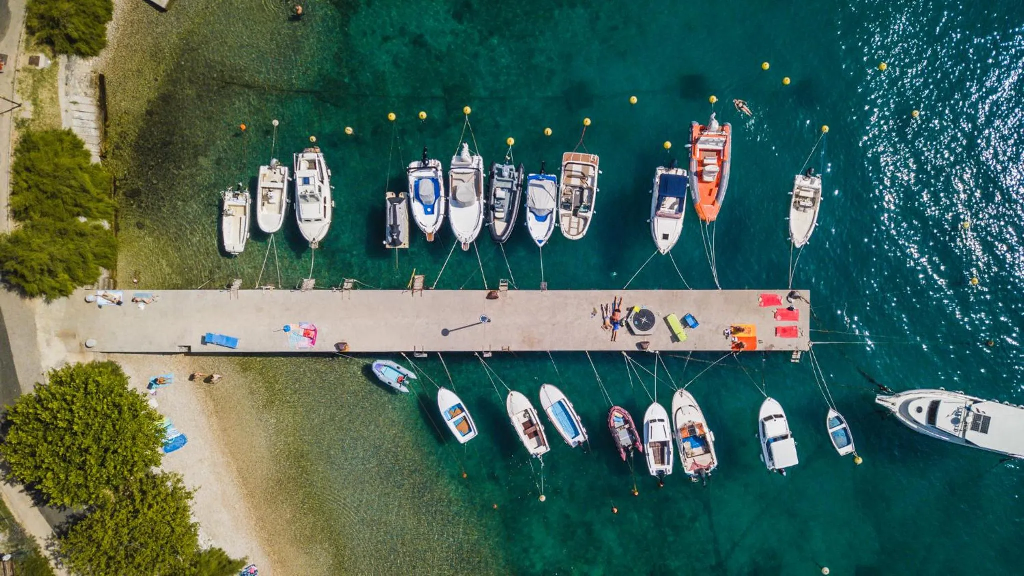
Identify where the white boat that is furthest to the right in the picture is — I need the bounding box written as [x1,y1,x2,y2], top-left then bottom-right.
[875,385,1024,458]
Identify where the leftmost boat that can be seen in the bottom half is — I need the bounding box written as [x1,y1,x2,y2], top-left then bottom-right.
[373,359,418,393]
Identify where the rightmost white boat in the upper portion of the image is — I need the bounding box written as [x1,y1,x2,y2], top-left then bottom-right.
[784,165,822,248]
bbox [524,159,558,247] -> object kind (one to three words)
boat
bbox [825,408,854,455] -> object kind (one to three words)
boat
